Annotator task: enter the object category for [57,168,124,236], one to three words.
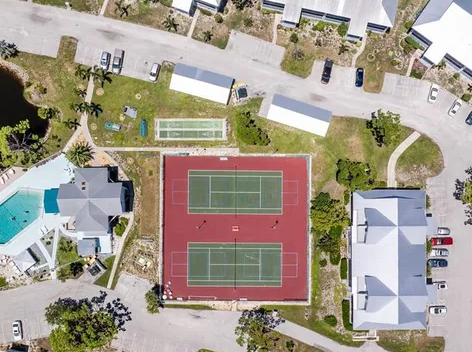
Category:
building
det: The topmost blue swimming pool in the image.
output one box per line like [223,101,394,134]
[45,187,59,213]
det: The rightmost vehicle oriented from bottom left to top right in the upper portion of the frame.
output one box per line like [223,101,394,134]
[448,98,463,117]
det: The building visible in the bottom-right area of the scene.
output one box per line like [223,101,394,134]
[350,191,438,329]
